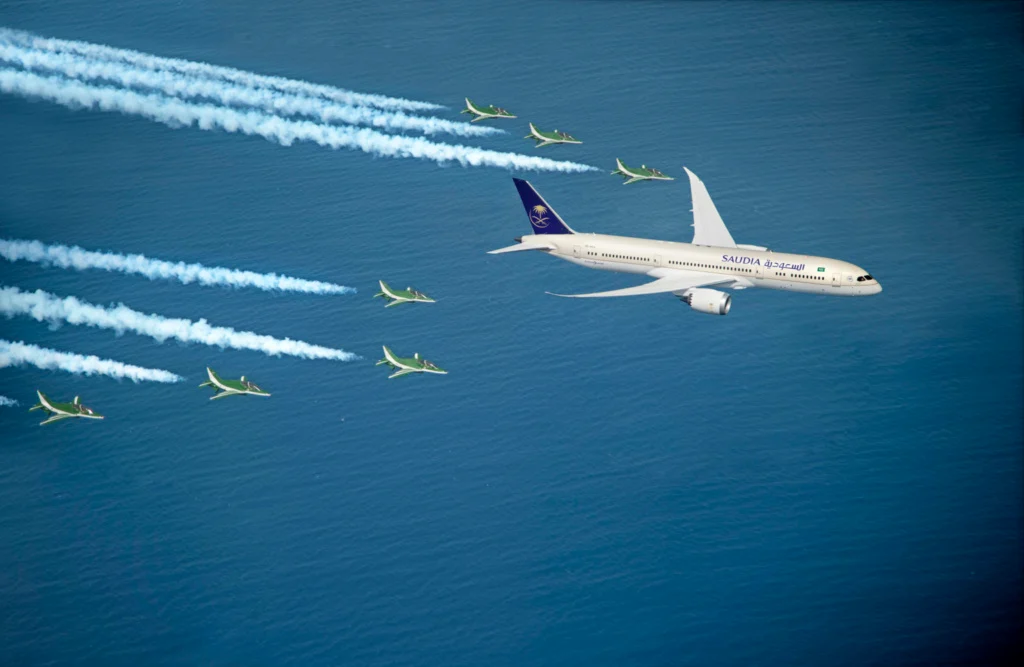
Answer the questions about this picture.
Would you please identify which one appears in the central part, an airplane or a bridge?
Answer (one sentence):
You can see an airplane in the central part.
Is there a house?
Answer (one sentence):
No, there's no house here.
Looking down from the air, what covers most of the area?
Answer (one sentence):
Most of the picture is covered by water.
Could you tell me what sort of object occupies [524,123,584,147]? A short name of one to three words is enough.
airplane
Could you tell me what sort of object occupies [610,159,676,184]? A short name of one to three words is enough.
airplane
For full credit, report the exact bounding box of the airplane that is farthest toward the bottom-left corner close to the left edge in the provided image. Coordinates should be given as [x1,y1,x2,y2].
[29,390,106,425]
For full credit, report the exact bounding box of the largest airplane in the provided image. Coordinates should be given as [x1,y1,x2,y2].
[489,167,882,315]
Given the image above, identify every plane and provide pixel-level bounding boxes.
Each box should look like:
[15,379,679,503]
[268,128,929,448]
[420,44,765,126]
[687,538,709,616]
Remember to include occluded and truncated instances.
[198,367,274,400]
[375,346,447,379]
[460,98,521,122]
[524,123,584,147]
[29,390,106,425]
[489,167,882,315]
[610,159,676,184]
[373,281,437,307]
